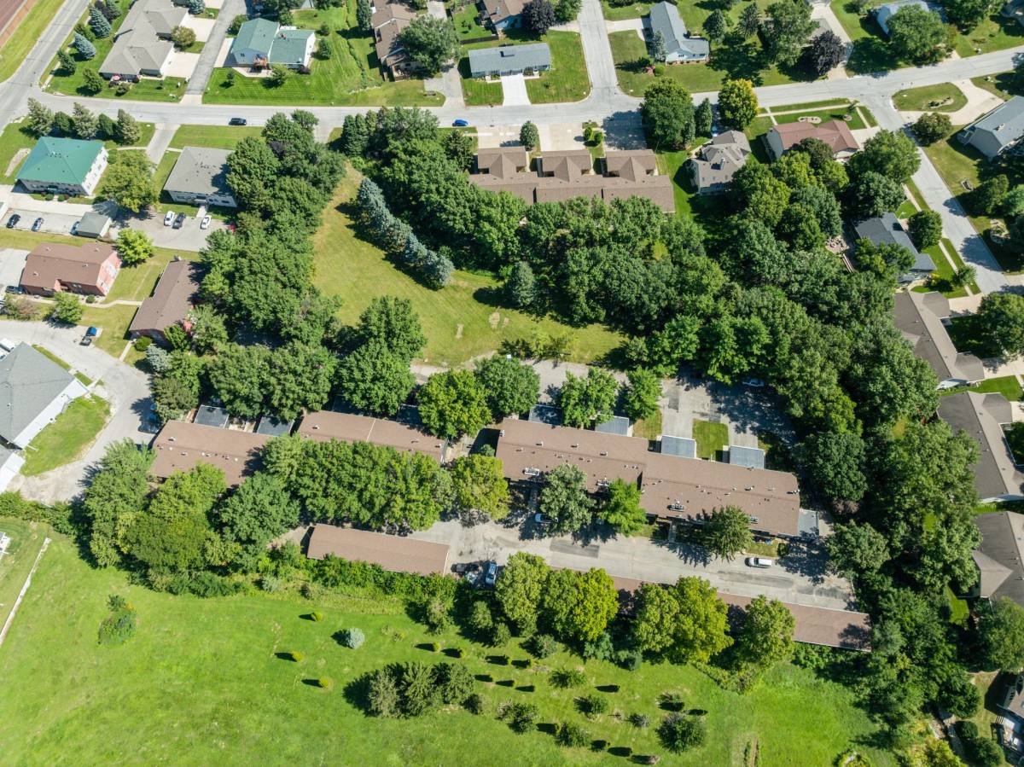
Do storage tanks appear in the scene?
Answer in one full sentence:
No, the scene contains no storage tank.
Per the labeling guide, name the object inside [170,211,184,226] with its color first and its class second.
gray car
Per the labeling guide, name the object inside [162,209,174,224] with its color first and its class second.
white vehicle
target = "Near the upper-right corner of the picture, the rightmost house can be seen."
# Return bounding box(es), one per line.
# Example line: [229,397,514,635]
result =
[964,86,1024,156]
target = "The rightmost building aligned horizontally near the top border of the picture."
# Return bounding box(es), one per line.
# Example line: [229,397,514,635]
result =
[868,0,937,35]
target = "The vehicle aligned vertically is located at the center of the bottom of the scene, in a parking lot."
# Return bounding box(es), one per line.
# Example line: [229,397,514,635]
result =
[483,553,499,587]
